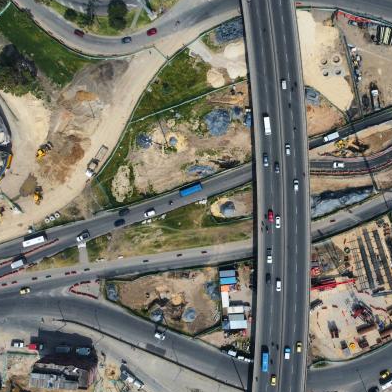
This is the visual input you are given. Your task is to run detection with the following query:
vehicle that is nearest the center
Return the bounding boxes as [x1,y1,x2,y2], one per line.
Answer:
[178,182,202,196]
